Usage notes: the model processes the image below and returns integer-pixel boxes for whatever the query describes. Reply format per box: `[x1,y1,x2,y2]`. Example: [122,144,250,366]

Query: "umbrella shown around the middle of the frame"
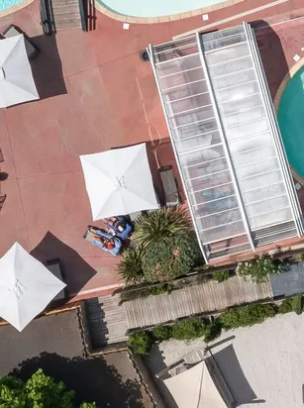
[80,142,160,222]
